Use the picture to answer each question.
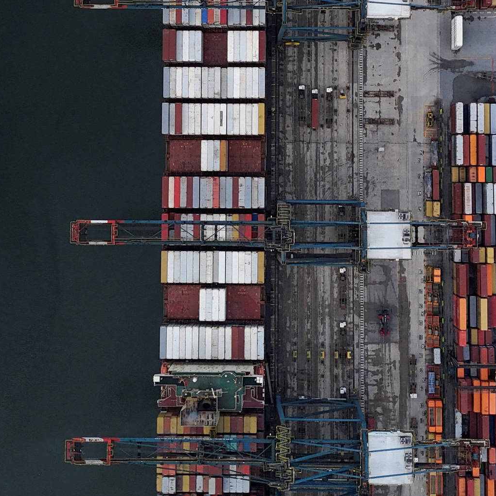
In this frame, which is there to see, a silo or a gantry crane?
gantry crane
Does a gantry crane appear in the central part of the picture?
Yes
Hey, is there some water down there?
Yes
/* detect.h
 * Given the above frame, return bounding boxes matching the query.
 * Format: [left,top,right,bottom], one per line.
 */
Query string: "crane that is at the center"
[66,185,485,278]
